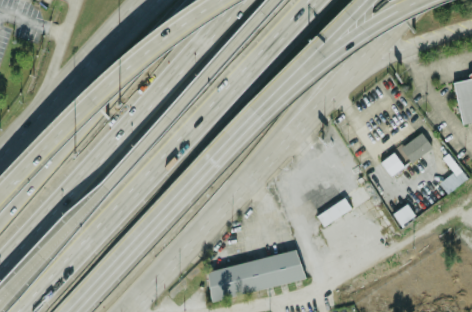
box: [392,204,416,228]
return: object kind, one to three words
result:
shed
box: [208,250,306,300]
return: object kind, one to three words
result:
building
